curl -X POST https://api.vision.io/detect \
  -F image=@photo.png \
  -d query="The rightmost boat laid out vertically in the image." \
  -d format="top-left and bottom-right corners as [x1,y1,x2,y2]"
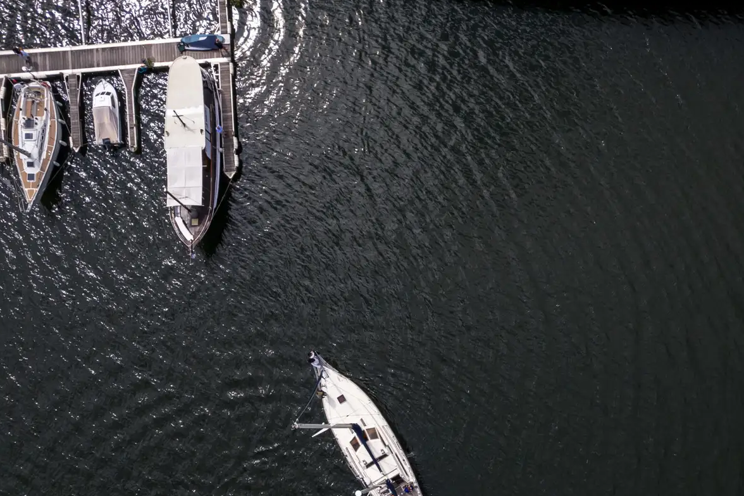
[164,57,222,256]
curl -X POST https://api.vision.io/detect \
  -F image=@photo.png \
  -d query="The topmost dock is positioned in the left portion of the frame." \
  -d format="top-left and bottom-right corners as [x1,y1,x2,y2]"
[215,0,233,36]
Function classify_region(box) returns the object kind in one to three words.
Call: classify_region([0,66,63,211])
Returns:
boat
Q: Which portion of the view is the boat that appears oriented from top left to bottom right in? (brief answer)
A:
bottom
